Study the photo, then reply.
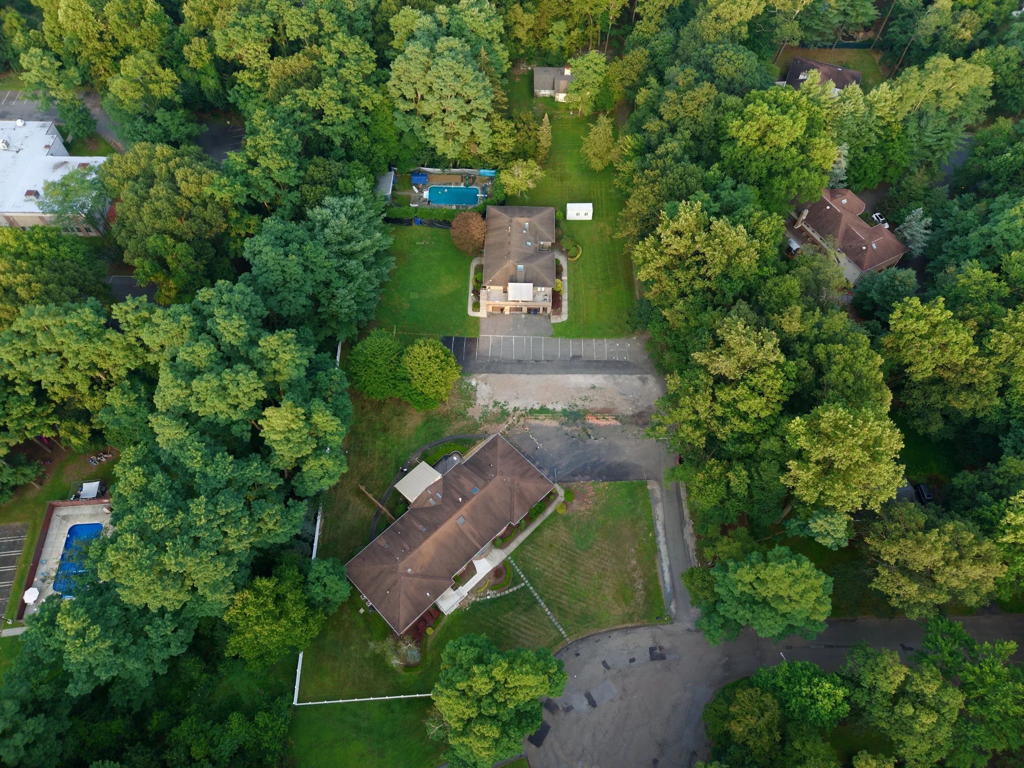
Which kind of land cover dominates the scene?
trees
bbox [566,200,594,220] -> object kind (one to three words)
shed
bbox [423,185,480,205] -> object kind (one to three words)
swimming pool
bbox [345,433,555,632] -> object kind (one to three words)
building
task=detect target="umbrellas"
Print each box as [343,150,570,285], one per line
[20,590,40,608]
[789,238,800,250]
